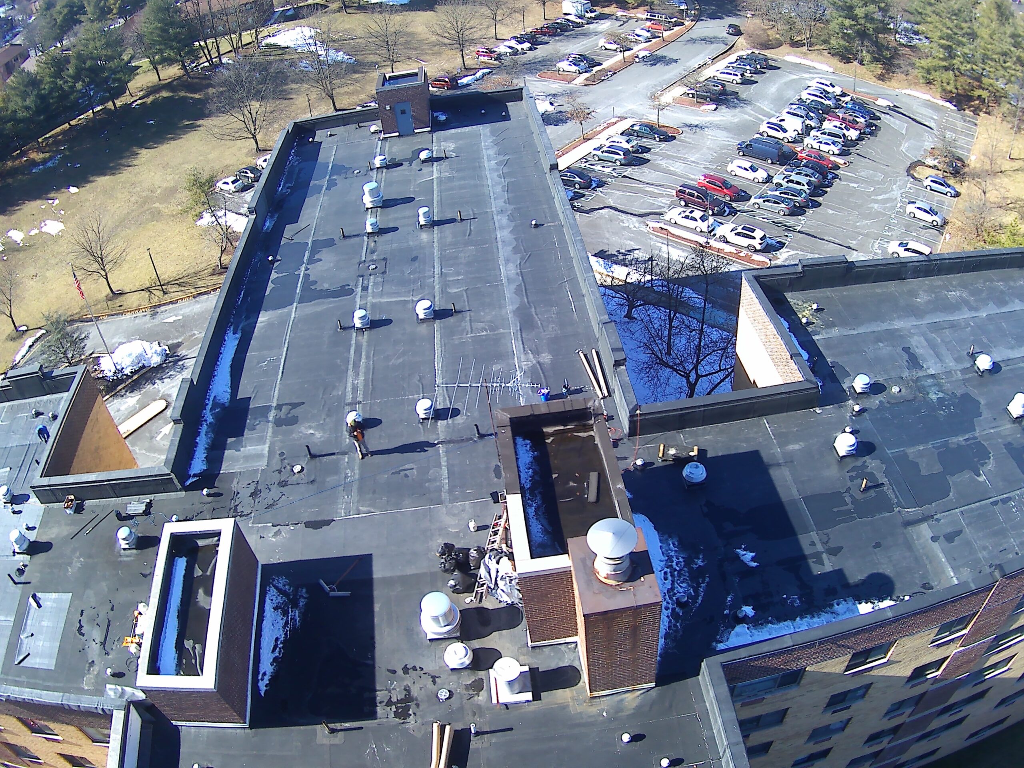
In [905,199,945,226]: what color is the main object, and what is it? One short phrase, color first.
white car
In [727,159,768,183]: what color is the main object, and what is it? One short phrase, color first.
white car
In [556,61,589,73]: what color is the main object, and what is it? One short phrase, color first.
white vehicle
